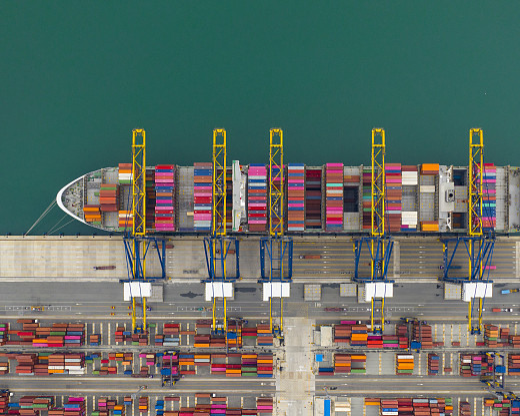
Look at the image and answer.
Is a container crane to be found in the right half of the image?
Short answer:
Yes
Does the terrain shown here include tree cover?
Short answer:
No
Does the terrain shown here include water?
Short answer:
Yes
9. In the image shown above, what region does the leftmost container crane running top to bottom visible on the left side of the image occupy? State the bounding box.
[123,128,169,333]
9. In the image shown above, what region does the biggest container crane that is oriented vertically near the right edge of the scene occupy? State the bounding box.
[440,127,497,334]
